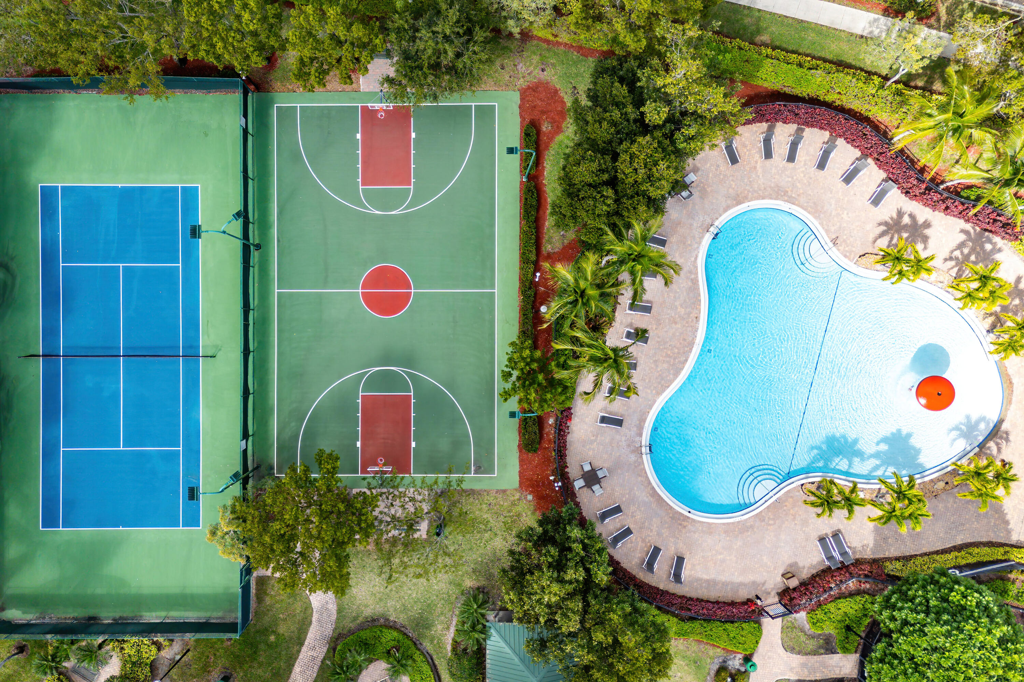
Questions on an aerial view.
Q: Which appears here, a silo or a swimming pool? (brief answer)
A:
swimming pool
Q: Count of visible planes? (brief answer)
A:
zero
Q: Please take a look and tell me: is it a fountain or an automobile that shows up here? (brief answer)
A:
fountain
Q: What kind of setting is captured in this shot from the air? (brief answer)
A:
sports ground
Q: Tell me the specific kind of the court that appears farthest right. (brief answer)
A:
basketball court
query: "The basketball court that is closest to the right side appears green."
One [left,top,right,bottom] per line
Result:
[253,90,520,489]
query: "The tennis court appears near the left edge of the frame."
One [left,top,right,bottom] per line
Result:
[0,91,253,620]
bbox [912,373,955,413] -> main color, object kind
orange fountain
